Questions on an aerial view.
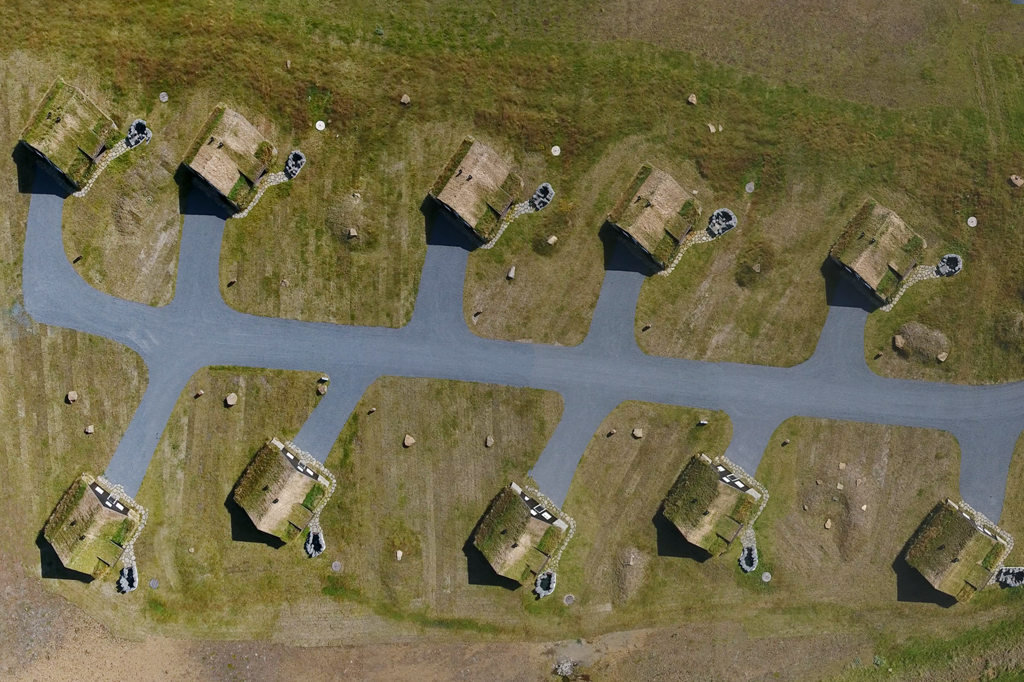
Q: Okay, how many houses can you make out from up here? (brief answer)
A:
ten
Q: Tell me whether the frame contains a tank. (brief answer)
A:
No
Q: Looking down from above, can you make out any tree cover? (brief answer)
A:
No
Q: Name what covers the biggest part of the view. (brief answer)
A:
grass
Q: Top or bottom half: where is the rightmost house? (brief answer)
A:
bottom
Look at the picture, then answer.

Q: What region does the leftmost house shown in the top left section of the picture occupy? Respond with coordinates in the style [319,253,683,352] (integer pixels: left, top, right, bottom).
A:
[18,76,122,188]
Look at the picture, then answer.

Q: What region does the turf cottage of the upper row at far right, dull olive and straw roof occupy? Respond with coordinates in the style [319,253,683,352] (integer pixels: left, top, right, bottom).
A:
[829,196,927,303]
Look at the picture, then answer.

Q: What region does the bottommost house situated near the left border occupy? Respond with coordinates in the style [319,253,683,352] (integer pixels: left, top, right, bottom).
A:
[42,471,146,582]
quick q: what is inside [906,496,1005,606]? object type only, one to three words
house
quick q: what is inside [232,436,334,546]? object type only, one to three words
house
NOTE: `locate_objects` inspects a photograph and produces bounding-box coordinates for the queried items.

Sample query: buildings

[829,196,927,303]
[42,471,146,582]
[906,496,1005,606]
[428,134,528,243]
[471,479,571,589]
[180,100,282,211]
[606,160,705,269]
[661,449,761,559]
[232,436,334,546]
[18,76,122,188]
